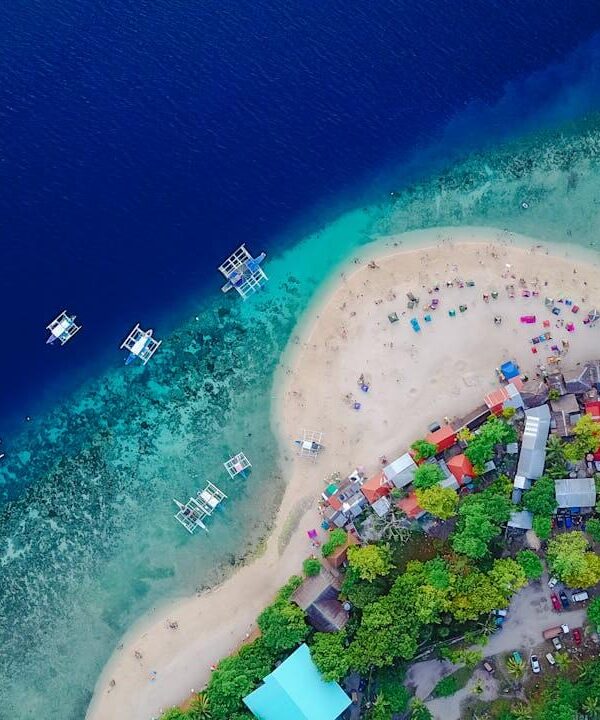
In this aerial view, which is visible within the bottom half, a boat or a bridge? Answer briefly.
boat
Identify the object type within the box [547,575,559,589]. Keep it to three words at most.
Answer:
vehicle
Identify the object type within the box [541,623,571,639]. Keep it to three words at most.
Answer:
vehicle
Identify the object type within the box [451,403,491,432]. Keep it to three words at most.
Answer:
shed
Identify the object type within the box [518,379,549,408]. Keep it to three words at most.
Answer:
house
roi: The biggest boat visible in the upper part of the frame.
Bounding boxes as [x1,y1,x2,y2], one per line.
[217,245,270,300]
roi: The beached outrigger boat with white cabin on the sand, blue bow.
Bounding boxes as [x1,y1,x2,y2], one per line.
[289,430,324,460]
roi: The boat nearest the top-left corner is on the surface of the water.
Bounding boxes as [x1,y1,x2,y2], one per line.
[44,313,78,349]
